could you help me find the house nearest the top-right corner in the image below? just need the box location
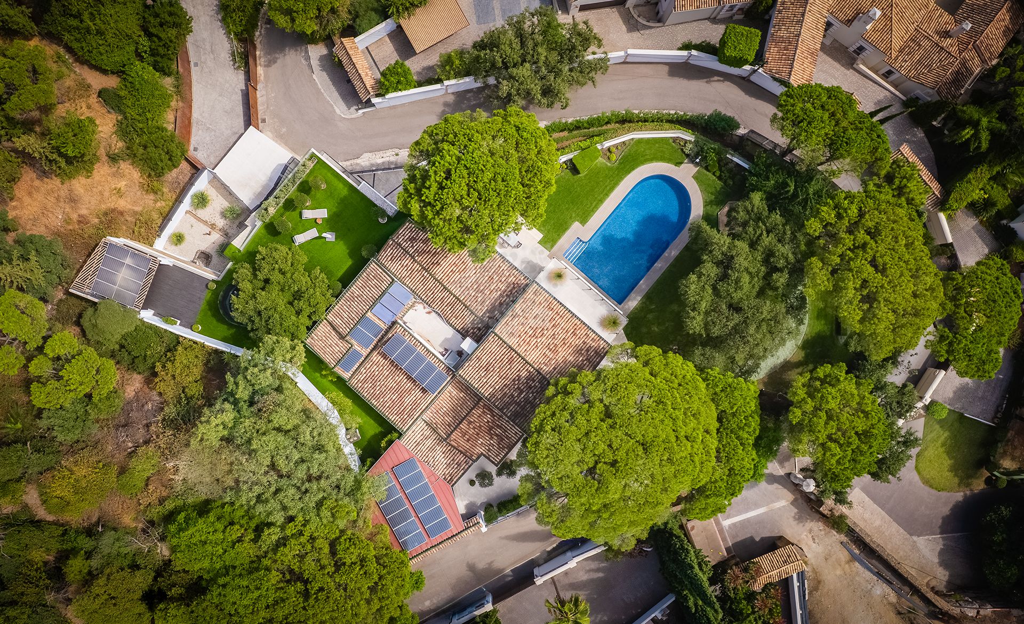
[824,0,1024,104]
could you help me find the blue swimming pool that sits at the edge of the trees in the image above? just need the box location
[563,173,692,305]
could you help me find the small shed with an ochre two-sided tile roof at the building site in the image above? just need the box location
[743,541,807,592]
